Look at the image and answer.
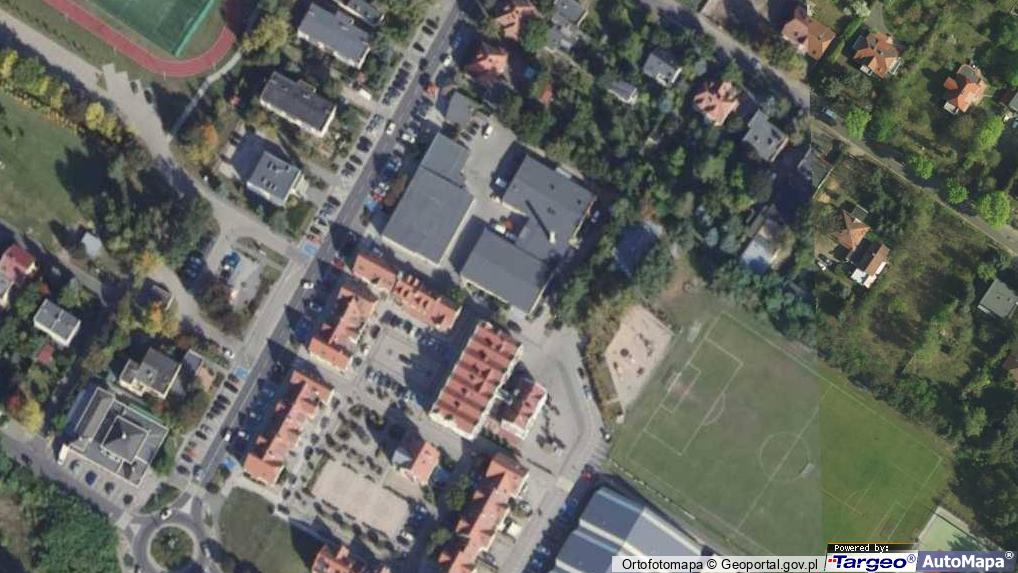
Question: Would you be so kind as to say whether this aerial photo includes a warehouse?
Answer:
Yes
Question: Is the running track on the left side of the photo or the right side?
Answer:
left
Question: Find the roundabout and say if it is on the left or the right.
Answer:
left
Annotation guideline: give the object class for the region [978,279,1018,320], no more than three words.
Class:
house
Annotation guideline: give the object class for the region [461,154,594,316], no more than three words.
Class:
warehouse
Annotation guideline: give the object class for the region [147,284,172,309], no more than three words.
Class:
building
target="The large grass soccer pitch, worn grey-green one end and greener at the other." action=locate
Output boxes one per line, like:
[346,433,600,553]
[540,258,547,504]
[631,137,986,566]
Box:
[606,297,955,573]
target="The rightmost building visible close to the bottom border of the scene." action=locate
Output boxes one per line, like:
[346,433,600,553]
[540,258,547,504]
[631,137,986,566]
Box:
[550,487,705,573]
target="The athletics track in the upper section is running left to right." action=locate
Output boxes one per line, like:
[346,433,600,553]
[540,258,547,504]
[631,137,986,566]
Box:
[44,0,258,78]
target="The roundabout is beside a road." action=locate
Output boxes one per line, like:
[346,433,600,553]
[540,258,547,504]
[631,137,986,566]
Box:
[131,498,211,573]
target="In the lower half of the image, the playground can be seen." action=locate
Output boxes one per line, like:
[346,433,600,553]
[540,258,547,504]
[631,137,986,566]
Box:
[605,305,673,407]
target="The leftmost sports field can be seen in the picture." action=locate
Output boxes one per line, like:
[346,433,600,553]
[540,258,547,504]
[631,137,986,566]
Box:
[81,0,213,55]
